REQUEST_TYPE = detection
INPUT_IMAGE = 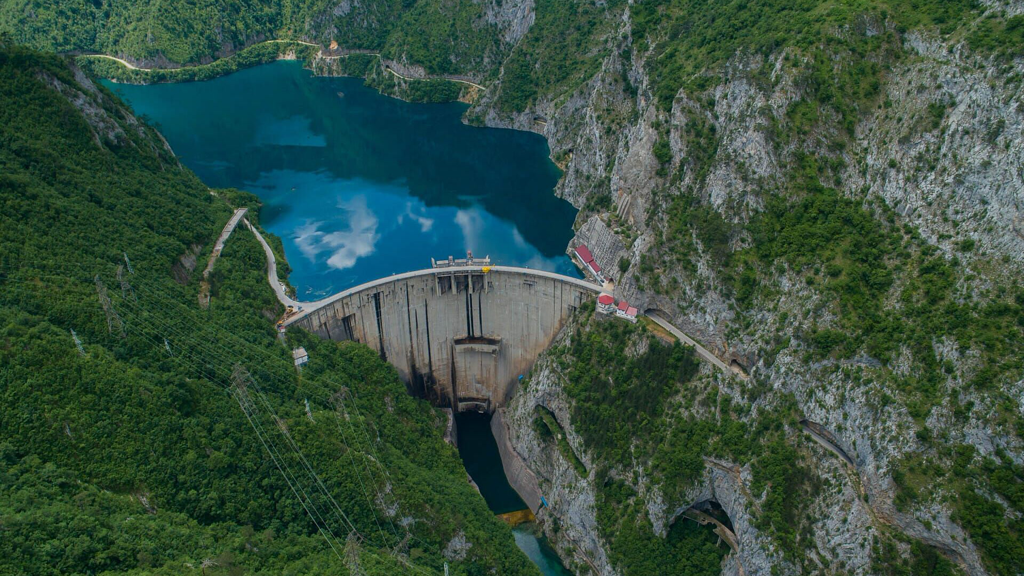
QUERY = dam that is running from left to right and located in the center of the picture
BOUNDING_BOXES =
[281,264,612,415]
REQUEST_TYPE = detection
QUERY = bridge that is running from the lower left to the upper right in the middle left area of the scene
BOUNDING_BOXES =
[211,207,254,256]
